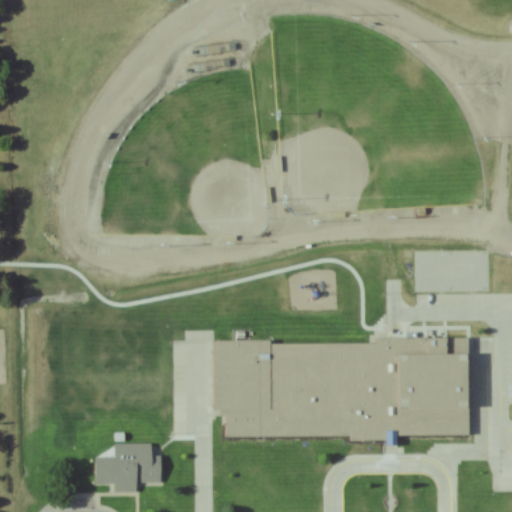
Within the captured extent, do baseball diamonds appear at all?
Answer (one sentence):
Yes, the frame does contain a baseball diamond.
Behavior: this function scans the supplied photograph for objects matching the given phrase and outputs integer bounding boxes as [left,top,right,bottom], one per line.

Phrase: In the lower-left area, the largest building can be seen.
[95,444,162,493]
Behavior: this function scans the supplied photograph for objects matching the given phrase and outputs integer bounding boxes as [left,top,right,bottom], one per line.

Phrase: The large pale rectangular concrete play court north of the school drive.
[414,250,488,292]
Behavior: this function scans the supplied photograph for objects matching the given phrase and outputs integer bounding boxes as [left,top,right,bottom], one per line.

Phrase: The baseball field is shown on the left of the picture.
[102,66,267,237]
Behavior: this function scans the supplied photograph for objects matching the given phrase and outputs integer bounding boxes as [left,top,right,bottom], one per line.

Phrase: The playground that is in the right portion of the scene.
[290,270,338,310]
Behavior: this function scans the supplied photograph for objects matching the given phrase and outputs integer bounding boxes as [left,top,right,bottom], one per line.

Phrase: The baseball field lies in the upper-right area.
[271,16,484,215]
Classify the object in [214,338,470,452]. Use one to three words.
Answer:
building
